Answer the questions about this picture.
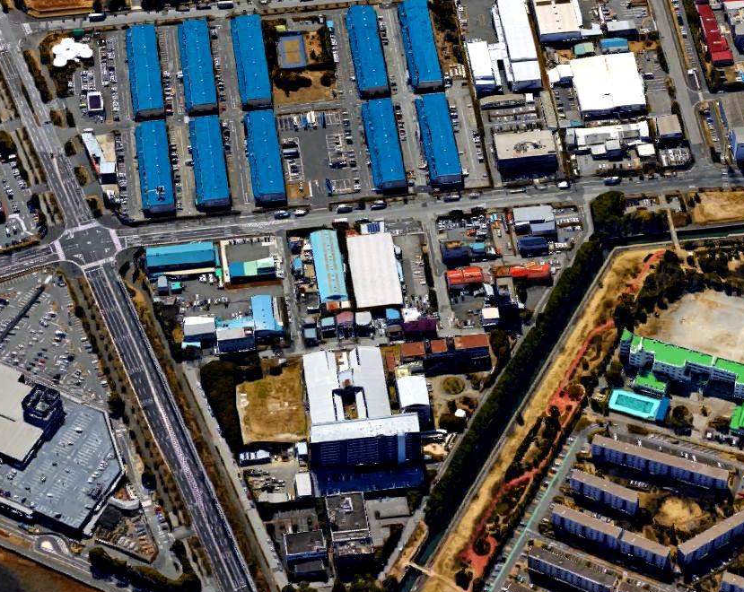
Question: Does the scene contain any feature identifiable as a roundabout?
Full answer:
No, there appears to be no roundabout in this shot.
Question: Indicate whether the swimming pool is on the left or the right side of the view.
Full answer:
You can find the swimming pool on the right side of the picture.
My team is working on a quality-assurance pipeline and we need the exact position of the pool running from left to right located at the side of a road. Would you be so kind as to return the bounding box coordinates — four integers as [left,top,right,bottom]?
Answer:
[609,390,671,422]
